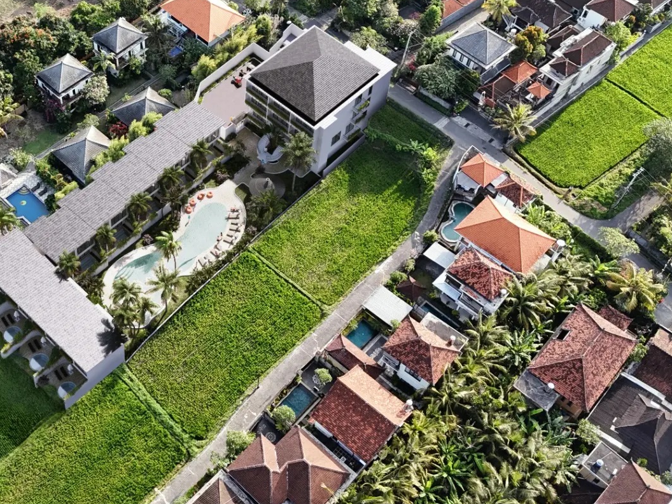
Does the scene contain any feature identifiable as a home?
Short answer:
Yes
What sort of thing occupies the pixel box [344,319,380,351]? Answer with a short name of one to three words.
swimming pool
